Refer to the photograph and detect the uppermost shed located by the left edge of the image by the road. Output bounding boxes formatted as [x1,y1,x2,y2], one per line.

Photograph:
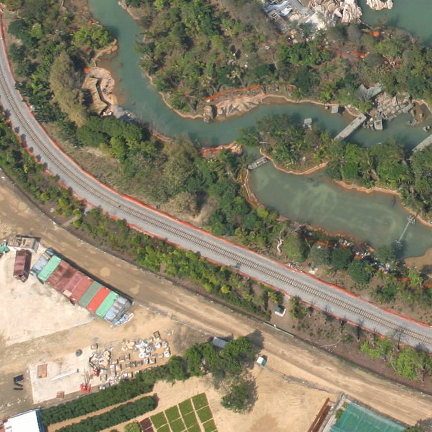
[7,236,41,256]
